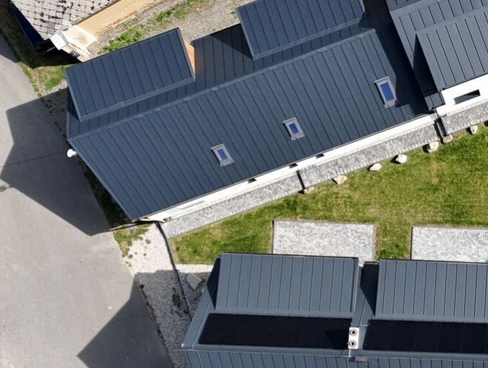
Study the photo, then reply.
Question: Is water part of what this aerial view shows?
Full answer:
No, no water is visible.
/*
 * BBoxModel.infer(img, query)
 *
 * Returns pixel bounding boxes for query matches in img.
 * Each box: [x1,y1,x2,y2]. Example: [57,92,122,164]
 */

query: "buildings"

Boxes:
[14,0,171,45]
[183,249,488,368]
[67,0,441,225]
